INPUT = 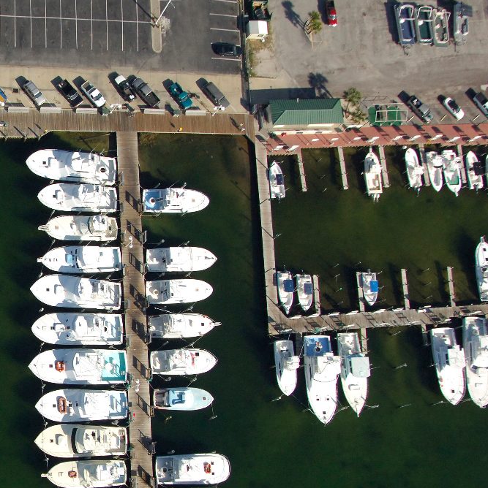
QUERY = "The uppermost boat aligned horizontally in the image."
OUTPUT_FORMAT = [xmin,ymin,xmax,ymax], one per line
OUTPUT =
[26,143,117,186]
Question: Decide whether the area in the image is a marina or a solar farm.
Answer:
marina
